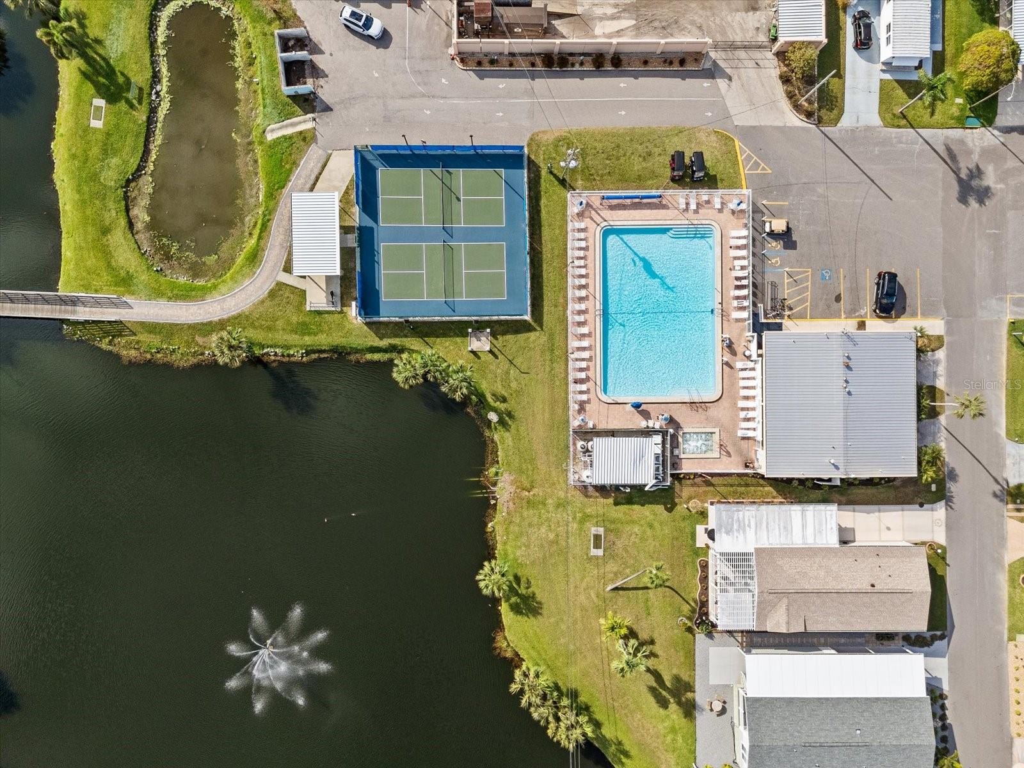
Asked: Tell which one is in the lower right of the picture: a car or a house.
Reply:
house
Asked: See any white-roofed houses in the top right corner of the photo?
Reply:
Yes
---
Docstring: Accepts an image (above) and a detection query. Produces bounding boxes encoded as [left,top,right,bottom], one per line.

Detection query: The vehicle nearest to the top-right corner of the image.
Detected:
[853,8,877,49]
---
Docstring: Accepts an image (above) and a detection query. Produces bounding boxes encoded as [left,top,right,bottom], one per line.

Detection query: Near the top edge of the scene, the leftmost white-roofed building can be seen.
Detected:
[765,0,827,56]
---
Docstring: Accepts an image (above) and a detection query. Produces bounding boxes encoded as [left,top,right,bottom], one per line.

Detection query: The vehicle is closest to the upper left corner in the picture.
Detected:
[338,3,384,38]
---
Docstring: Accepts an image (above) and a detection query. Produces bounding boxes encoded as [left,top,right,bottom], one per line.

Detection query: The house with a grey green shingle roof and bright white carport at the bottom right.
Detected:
[730,651,935,768]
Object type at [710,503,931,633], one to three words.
house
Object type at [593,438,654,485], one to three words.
shed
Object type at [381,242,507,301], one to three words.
sports court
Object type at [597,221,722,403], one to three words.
swimming pool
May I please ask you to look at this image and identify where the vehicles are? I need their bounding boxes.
[876,271,903,317]
[671,150,688,180]
[763,216,791,232]
[689,150,708,182]
[853,8,877,49]
[338,3,384,38]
